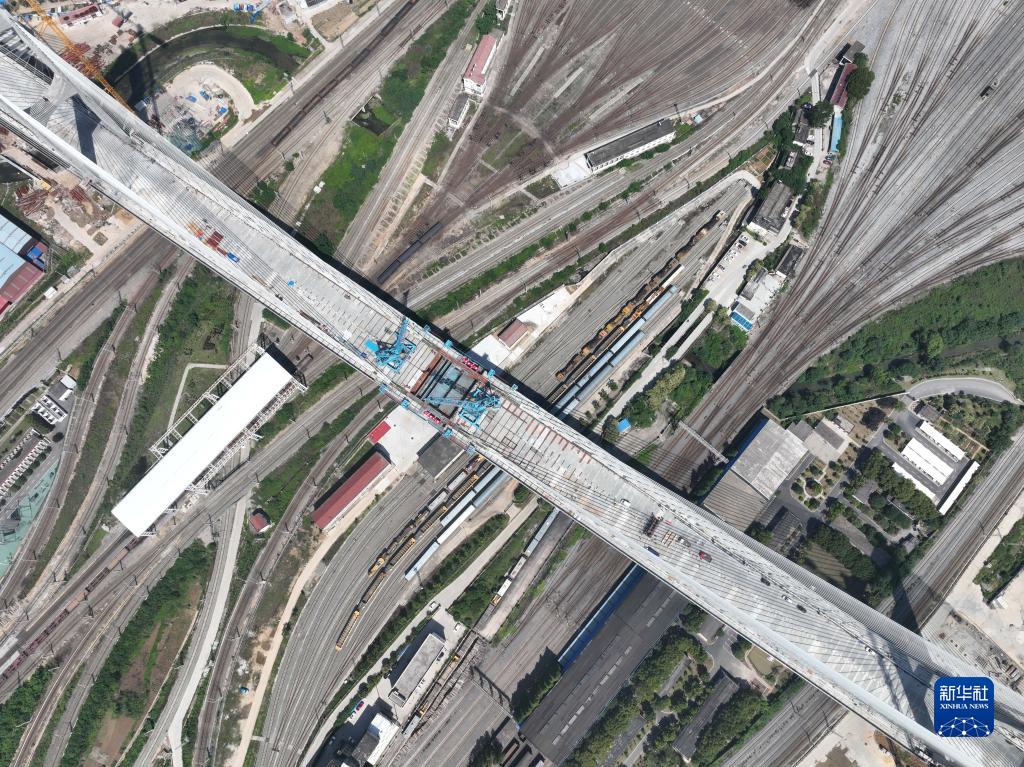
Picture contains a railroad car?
Yes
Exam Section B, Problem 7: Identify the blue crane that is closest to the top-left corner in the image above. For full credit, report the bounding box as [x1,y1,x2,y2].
[374,317,415,371]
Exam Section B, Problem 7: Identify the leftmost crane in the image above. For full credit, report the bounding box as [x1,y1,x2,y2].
[14,0,163,136]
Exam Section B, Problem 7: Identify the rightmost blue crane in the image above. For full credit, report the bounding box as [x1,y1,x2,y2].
[427,391,501,429]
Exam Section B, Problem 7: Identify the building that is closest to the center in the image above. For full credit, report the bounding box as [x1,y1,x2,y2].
[498,318,530,348]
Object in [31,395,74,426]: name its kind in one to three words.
building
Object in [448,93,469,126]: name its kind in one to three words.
building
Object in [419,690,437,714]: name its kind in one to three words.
rail car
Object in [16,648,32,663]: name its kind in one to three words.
rail car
